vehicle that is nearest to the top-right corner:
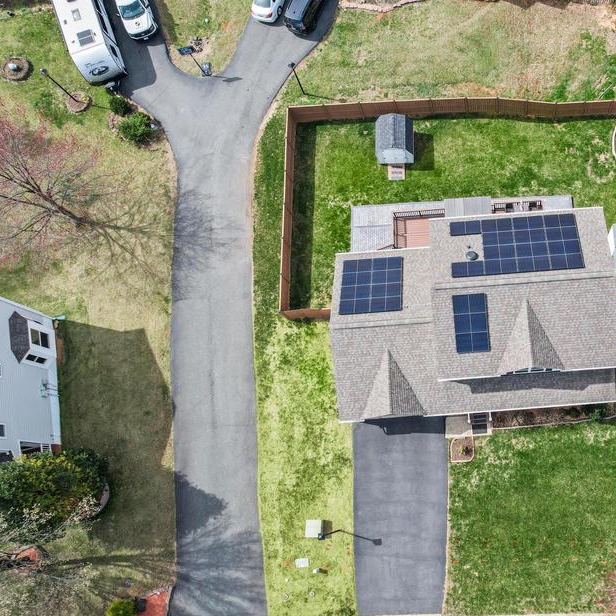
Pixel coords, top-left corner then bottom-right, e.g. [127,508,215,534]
[285,0,331,34]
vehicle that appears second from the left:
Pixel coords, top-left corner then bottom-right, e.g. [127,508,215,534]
[116,0,161,43]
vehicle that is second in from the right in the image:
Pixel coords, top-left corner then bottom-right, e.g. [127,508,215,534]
[252,0,290,25]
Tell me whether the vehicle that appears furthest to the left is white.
Yes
